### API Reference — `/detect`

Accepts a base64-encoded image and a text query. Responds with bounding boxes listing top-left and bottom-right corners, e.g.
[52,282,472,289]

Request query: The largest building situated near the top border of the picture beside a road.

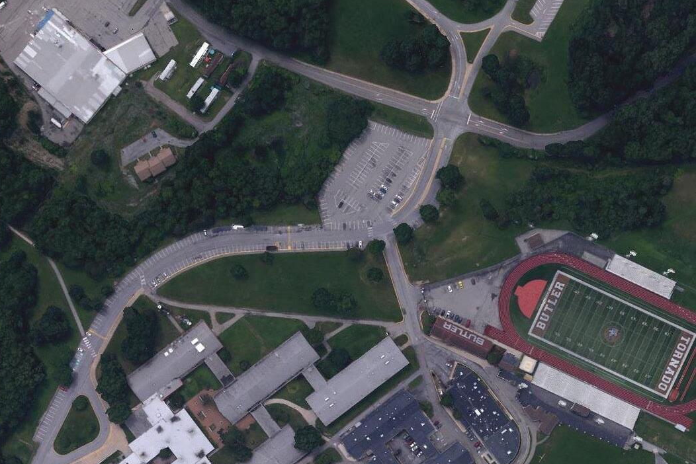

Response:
[15,9,127,126]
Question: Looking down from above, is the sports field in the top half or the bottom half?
bottom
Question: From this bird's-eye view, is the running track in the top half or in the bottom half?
bottom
